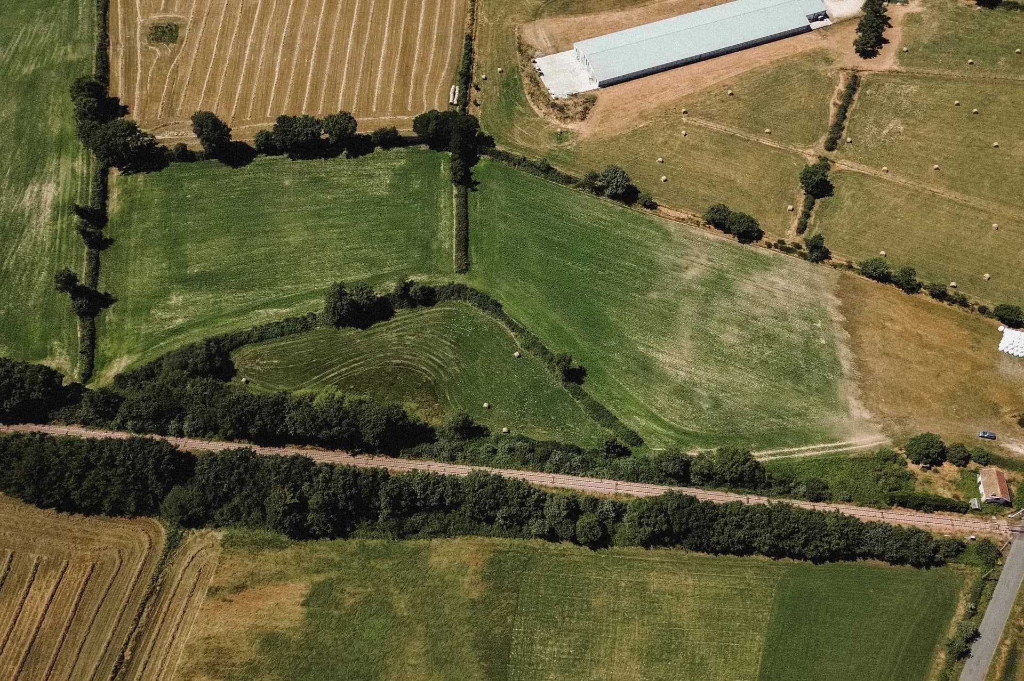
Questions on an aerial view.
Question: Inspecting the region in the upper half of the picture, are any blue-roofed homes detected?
No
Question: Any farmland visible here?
Yes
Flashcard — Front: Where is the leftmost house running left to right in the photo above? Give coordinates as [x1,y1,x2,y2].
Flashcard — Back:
[573,0,827,87]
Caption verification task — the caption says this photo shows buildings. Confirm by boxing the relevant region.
[974,467,1010,504]
[573,0,827,87]
[967,498,982,512]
